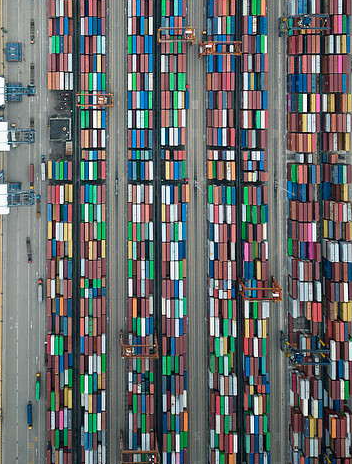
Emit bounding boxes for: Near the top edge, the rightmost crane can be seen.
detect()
[279,14,329,37]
